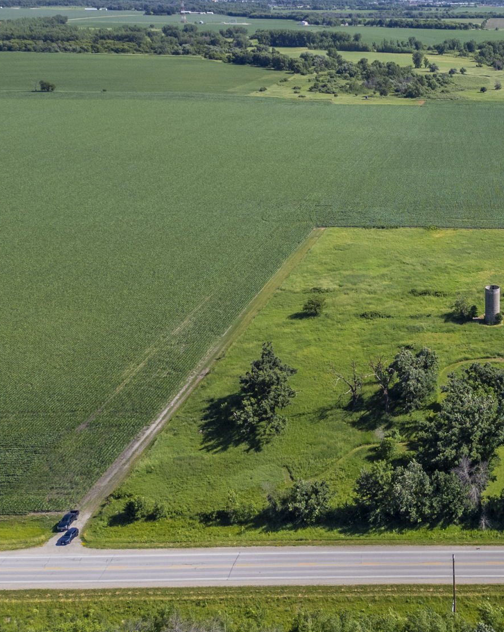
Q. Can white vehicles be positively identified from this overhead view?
No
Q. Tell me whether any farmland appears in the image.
Yes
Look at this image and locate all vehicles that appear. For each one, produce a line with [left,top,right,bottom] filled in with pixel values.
[57,526,79,544]
[57,509,82,529]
